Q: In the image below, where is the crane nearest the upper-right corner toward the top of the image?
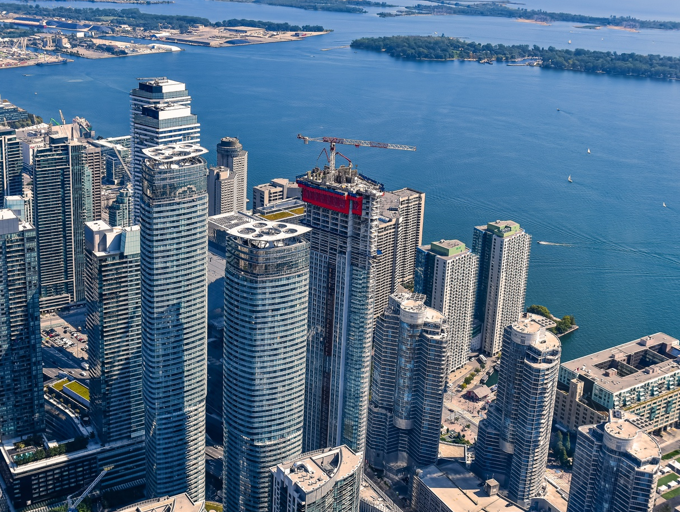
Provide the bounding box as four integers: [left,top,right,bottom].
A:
[302,131,409,186]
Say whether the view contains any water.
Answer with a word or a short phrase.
Yes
